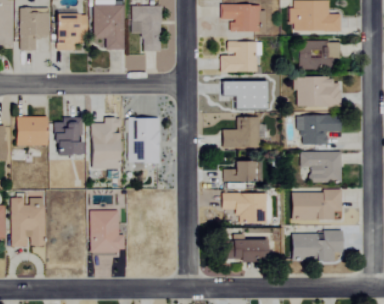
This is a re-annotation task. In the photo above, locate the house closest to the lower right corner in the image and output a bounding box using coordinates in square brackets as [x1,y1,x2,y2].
[292,230,344,262]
